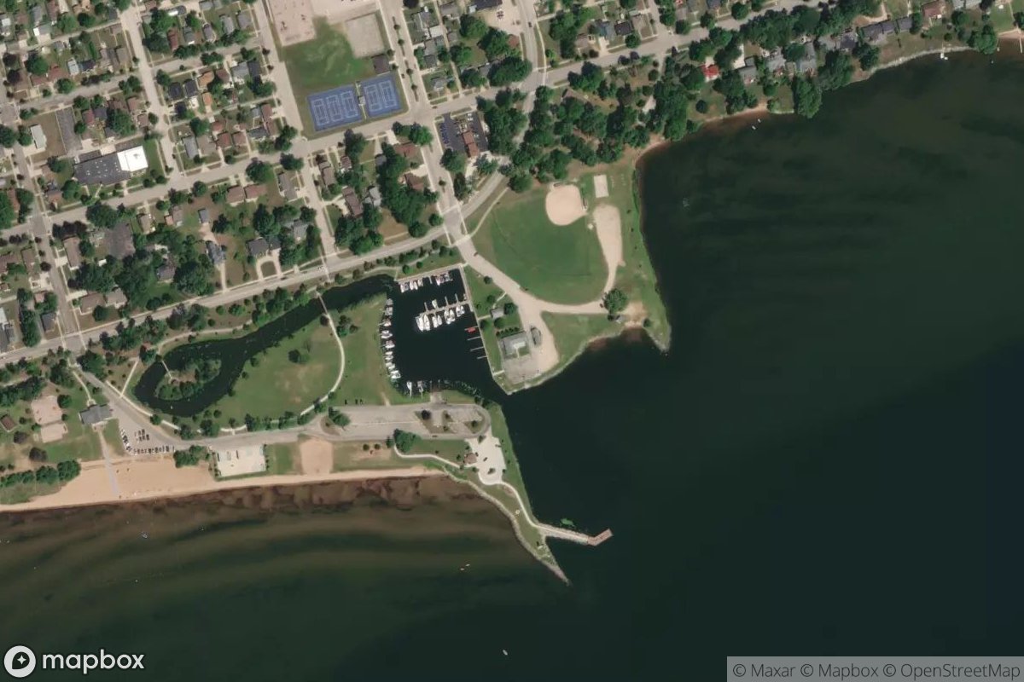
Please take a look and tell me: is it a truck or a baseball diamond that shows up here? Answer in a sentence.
This aerial view contains a baseball diamond.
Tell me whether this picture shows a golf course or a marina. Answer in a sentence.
This looks like a marina.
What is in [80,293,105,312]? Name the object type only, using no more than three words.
house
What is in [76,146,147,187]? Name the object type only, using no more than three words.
building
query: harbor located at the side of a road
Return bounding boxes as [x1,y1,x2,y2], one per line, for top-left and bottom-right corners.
[388,264,508,394]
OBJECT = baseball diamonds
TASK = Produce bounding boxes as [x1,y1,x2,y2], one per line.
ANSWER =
[483,181,607,303]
